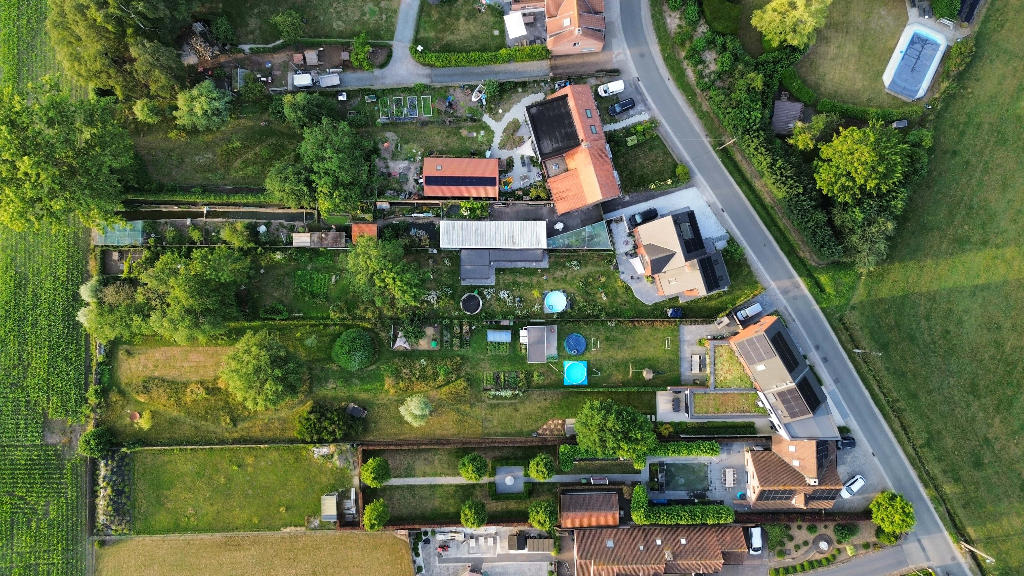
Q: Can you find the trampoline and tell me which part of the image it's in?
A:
center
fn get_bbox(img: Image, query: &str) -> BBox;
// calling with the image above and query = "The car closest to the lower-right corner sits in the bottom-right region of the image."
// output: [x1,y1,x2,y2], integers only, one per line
[840,474,866,498]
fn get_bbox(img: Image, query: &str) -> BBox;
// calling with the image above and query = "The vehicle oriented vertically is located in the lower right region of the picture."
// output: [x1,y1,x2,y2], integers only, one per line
[747,523,763,556]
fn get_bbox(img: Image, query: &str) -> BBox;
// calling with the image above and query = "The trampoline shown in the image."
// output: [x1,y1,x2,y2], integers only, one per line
[460,292,482,314]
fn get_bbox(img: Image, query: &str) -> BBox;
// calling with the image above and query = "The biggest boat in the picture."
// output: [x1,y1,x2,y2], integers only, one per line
[472,85,485,101]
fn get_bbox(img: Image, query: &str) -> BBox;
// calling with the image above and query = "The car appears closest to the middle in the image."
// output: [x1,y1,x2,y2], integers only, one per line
[628,207,659,226]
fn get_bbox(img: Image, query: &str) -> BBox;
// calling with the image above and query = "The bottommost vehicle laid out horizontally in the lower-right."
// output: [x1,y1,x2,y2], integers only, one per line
[832,436,860,450]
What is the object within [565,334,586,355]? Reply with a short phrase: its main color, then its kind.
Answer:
blue swimming pool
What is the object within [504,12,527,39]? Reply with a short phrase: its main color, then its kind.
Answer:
white umbrella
